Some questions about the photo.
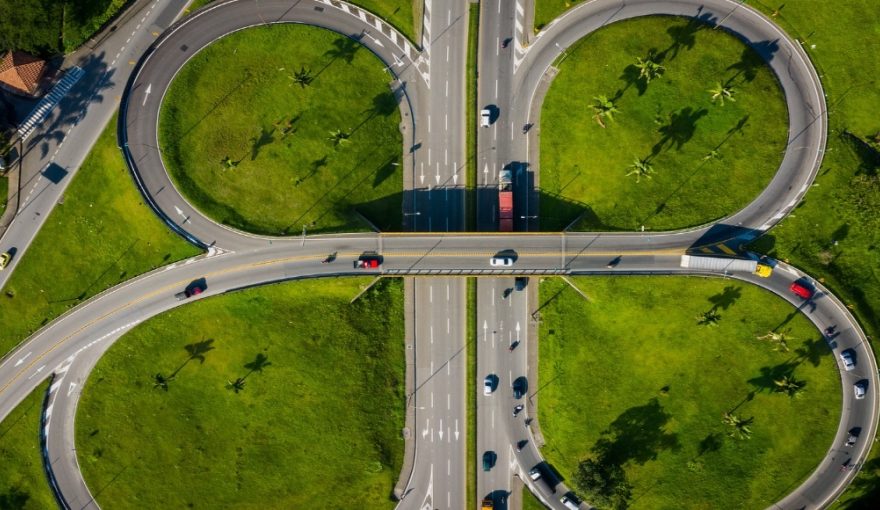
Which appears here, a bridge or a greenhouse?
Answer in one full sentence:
Looking from above, you can make out a bridge.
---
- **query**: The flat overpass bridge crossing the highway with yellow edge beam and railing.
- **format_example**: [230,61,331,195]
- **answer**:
[349,206,594,304]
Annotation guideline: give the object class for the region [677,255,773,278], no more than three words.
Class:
truck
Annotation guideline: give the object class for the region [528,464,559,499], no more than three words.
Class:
truck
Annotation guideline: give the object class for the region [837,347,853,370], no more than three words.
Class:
car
